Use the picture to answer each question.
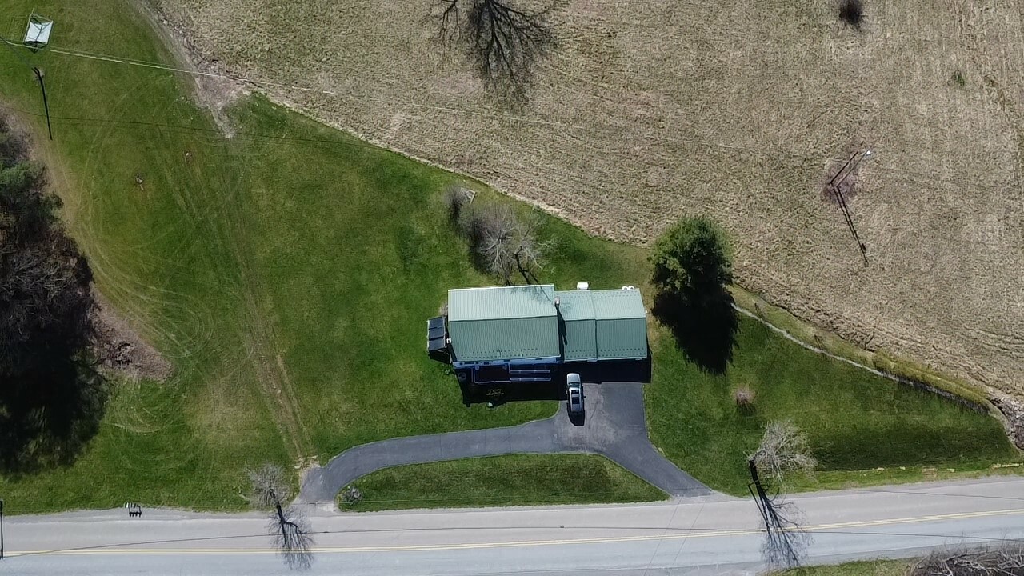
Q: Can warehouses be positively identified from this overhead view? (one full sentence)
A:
No, the picture doesn't show any warehouse.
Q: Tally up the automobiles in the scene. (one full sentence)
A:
In total, there is 1 automobile in the scene.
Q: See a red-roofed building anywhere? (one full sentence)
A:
No, there appears to be no red-roofed building in this shot.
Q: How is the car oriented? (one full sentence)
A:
The car is laid out up and down.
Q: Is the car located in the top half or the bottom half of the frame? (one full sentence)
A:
The bottom half of the photo is where the car is.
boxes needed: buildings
[447,284,648,371]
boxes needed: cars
[566,372,586,415]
